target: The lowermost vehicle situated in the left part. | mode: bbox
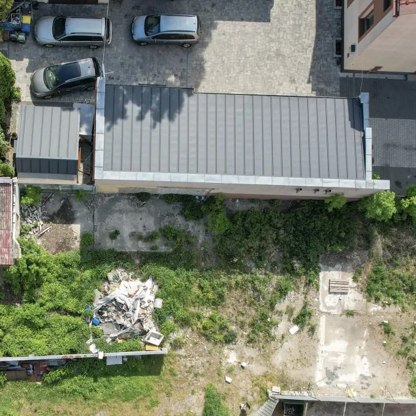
[32,54,102,102]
